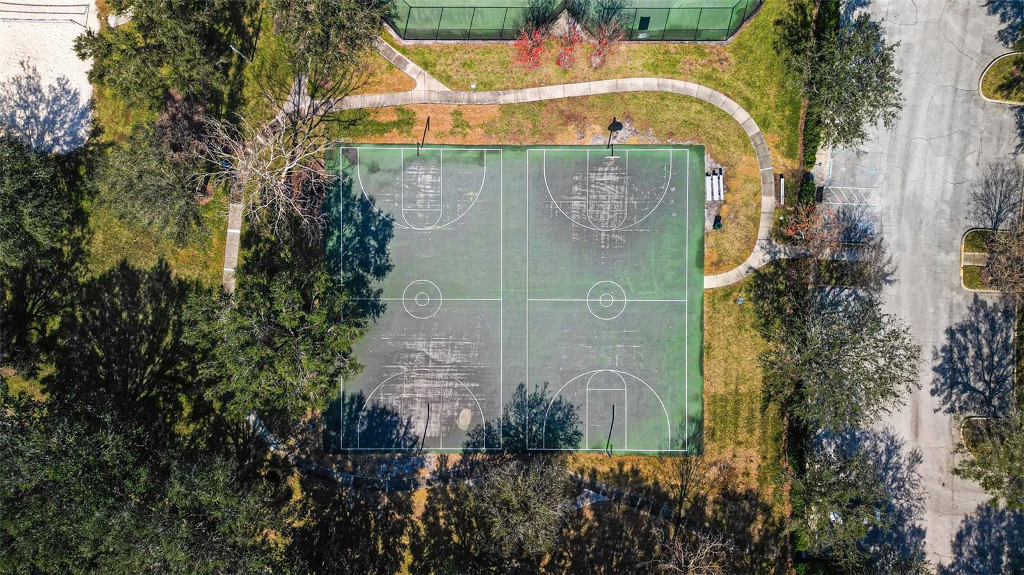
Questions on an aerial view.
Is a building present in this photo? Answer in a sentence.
No, no building is visible in the scene.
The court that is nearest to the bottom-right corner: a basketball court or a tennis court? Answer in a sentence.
I'd identify the court that is nearest to the bottom-right corner as a basketball court.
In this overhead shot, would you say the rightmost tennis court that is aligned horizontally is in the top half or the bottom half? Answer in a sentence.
The rightmost tennis court that is aligned horizontally is in the top half of the image.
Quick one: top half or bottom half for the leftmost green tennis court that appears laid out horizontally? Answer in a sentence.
The leftmost green tennis court that appears laid out horizontally is in the top half of the image.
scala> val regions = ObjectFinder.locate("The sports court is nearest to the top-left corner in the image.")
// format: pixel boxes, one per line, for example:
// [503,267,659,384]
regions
[0,0,99,154]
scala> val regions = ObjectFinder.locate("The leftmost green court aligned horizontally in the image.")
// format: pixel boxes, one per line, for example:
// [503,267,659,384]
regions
[360,0,566,40]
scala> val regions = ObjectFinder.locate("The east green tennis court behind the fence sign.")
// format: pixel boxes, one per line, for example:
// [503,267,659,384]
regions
[566,0,766,40]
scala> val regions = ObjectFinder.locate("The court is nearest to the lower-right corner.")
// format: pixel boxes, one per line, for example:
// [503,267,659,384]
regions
[514,144,704,456]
